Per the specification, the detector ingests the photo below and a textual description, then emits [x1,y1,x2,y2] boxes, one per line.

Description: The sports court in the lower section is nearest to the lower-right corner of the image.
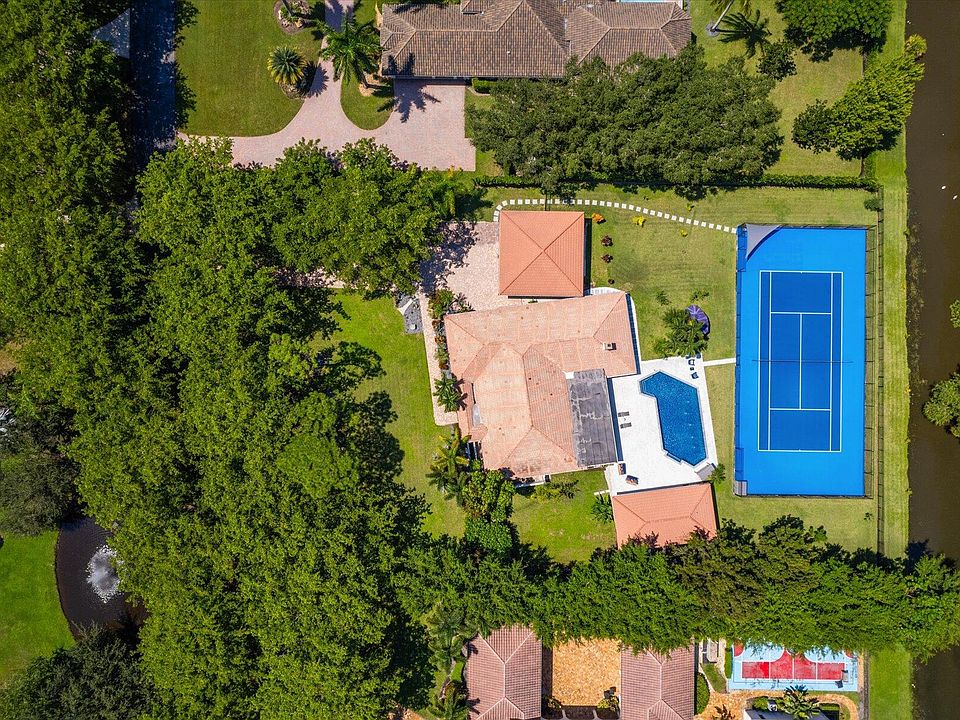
[728,629,858,690]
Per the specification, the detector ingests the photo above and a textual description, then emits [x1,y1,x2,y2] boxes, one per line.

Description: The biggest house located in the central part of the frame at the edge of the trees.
[443,292,637,480]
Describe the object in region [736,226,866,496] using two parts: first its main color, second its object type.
blue tennis court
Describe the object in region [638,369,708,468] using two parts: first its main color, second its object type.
blue swimming pool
